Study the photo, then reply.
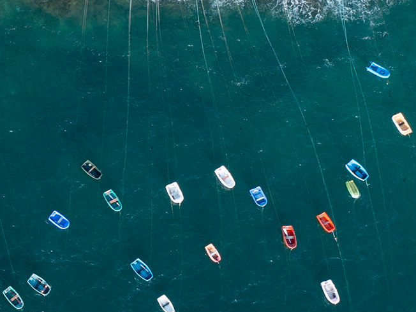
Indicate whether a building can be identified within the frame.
No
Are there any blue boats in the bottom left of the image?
Yes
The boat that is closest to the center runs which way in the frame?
at an angle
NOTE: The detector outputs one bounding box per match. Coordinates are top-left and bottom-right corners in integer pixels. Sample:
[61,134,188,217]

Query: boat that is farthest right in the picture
[392,112,414,140]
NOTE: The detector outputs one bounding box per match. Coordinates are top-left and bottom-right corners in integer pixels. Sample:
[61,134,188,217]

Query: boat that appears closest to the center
[215,165,235,192]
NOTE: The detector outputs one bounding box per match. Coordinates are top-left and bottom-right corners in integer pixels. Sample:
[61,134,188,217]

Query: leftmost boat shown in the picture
[4,287,23,311]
